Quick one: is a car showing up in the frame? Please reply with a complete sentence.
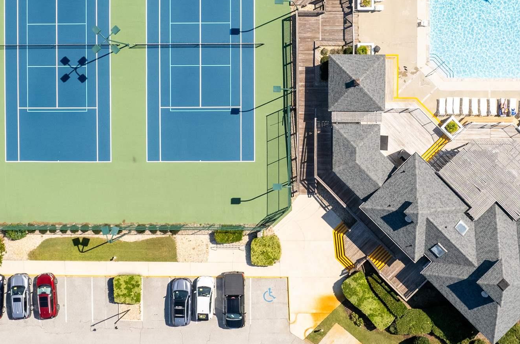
Yes, there is a car in the image.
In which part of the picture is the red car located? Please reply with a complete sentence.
Look in the bottom left portion of the view to spot the red car.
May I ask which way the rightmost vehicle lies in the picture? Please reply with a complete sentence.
The rightmost vehicle runs vertically in the image.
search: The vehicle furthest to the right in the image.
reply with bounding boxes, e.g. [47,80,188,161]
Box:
[221,271,246,328]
